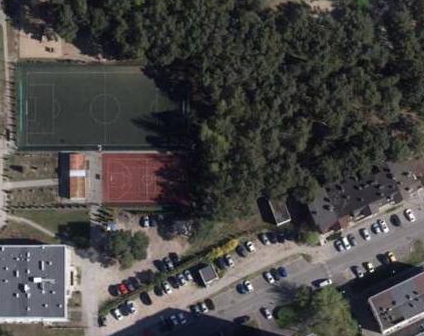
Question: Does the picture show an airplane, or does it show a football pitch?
football pitch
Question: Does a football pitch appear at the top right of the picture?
No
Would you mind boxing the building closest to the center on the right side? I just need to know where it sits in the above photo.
[269,197,290,227]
